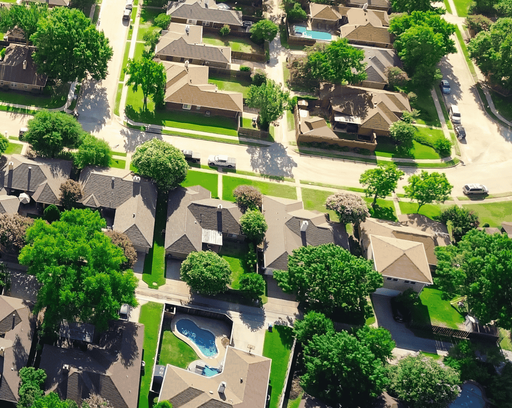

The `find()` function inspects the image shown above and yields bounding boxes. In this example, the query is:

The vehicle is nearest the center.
[208,156,238,170]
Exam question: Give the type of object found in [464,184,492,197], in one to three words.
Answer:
vehicle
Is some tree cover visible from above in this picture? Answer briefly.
Yes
